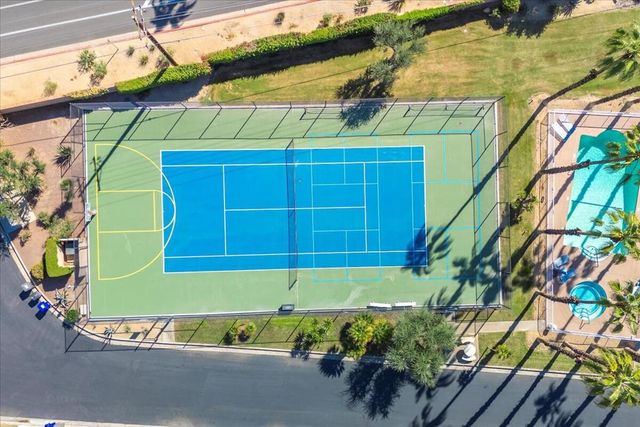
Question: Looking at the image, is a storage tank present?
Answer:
No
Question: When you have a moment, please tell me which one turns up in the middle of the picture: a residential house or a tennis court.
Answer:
tennis court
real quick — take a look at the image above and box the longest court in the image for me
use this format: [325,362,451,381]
[83,101,504,321]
